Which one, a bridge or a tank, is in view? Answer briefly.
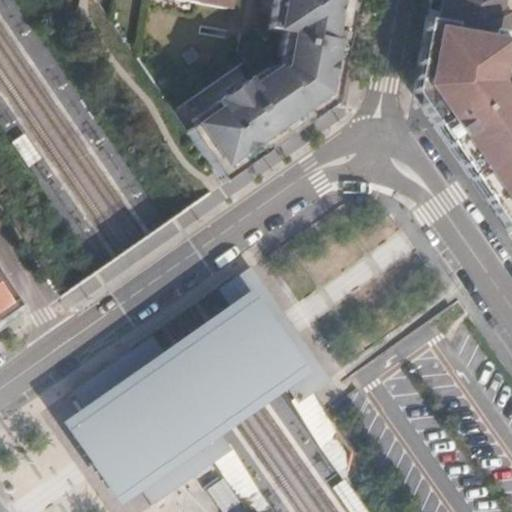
bridge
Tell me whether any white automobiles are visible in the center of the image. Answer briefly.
Yes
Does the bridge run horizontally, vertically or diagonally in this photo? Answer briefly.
diagonally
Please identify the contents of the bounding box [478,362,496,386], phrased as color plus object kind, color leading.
white car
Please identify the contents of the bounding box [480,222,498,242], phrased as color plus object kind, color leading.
gray car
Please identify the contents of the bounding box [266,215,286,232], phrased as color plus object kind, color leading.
gray car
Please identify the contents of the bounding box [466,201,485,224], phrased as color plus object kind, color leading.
white car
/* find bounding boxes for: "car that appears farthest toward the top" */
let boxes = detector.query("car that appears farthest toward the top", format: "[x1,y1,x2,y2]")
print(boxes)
[419,136,436,156]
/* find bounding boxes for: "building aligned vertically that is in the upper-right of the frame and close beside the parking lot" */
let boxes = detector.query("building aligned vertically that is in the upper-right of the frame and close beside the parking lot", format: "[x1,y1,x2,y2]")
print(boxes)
[416,17,512,232]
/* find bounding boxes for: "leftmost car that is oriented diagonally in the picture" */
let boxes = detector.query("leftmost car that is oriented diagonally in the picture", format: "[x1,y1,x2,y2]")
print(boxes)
[96,296,116,312]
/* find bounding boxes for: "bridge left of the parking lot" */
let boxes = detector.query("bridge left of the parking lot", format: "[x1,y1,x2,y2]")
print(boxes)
[60,184,238,390]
